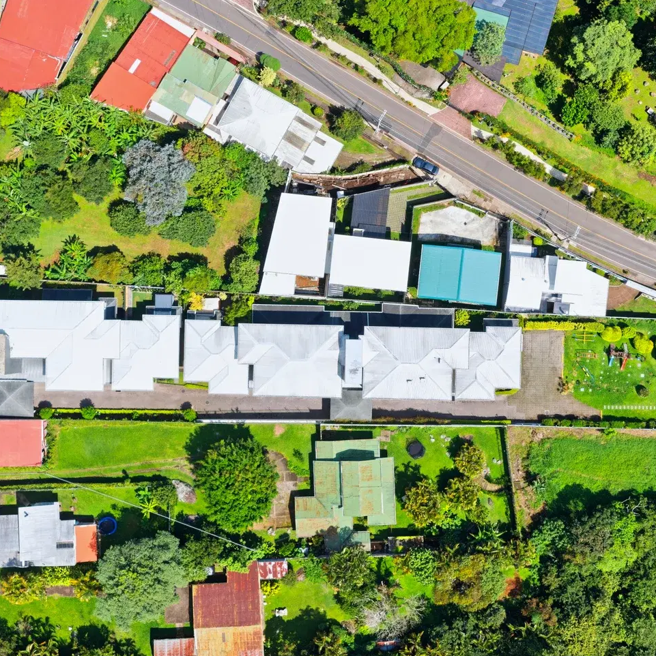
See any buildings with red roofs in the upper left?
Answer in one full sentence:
Yes, a building with a red roof is visible in the upper left.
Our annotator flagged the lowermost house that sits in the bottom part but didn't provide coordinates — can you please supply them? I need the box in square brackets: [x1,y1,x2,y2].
[154,558,288,656]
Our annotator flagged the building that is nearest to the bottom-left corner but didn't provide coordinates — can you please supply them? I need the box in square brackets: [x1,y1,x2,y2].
[0,501,100,567]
